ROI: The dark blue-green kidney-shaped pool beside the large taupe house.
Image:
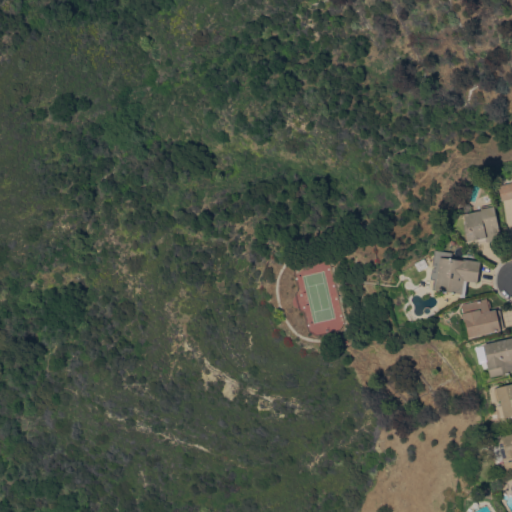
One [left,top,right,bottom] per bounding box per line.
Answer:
[412,295,437,316]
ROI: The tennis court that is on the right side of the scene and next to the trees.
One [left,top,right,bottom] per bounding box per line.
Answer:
[294,262,344,335]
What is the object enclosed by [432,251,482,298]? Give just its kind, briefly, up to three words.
house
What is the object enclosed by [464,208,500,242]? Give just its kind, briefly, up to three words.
house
